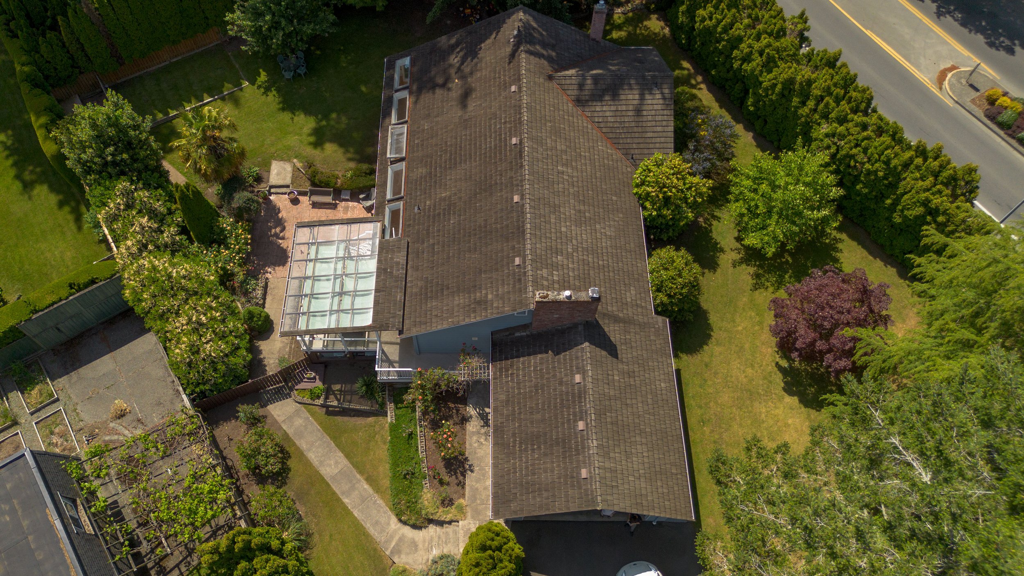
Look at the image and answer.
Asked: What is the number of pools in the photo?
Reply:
0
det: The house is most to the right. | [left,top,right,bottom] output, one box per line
[370,0,698,527]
